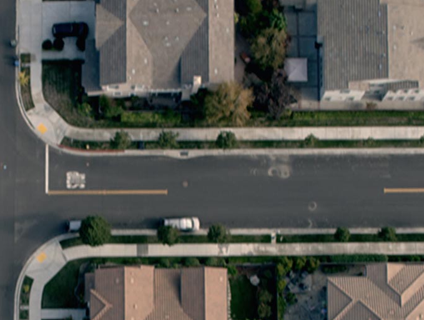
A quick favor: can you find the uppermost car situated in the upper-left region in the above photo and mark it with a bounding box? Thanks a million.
[53,19,87,36]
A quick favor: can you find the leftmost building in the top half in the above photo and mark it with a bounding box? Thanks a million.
[83,0,237,98]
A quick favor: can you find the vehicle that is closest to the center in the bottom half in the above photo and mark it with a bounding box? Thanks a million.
[160,216,200,232]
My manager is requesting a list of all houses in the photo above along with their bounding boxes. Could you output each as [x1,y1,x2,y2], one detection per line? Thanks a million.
[323,263,424,320]
[316,0,424,101]
[84,266,228,320]
[83,0,237,98]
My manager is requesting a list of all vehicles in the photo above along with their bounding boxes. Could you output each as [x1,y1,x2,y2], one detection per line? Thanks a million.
[160,216,200,232]
[53,19,87,36]
[63,218,87,233]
